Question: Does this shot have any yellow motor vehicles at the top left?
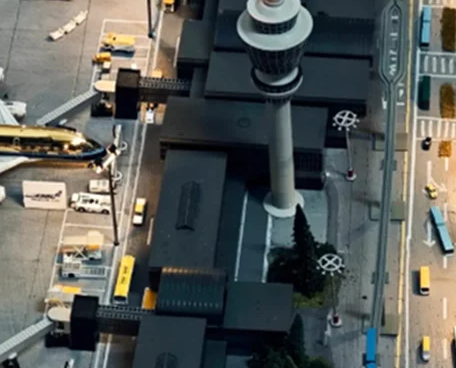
Yes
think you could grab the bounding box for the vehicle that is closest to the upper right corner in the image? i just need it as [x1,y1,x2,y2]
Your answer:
[418,7,432,51]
